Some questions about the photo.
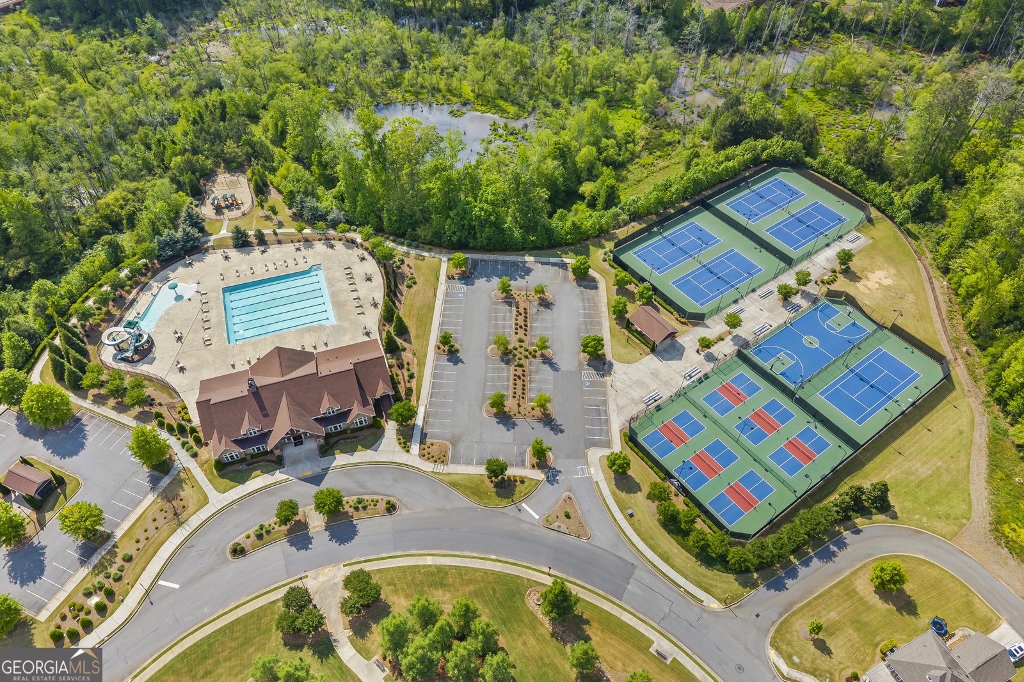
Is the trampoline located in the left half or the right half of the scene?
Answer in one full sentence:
The trampoline appears in the right half of the scene.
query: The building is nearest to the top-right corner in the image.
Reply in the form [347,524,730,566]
[629,306,679,351]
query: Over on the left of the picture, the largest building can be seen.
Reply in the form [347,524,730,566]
[196,339,395,462]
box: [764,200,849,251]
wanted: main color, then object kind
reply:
blue tennis court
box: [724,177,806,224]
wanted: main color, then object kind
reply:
blue tennis court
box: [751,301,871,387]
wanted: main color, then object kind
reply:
blue basketball court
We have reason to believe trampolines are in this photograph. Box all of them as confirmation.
[928,615,953,636]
